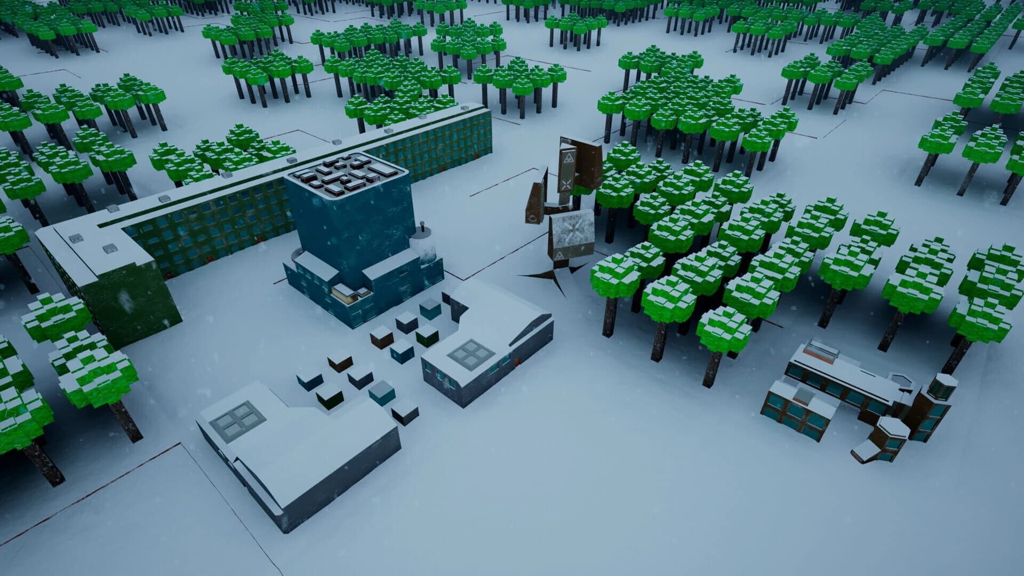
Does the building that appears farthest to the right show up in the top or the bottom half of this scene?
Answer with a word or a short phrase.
bottom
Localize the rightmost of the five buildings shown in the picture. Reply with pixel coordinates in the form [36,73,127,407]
[761,338,957,464]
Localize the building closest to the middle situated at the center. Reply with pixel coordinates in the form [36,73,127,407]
[421,277,554,409]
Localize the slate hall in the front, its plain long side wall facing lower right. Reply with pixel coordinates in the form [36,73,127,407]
[197,381,401,537]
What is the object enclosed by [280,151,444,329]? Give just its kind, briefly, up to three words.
building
